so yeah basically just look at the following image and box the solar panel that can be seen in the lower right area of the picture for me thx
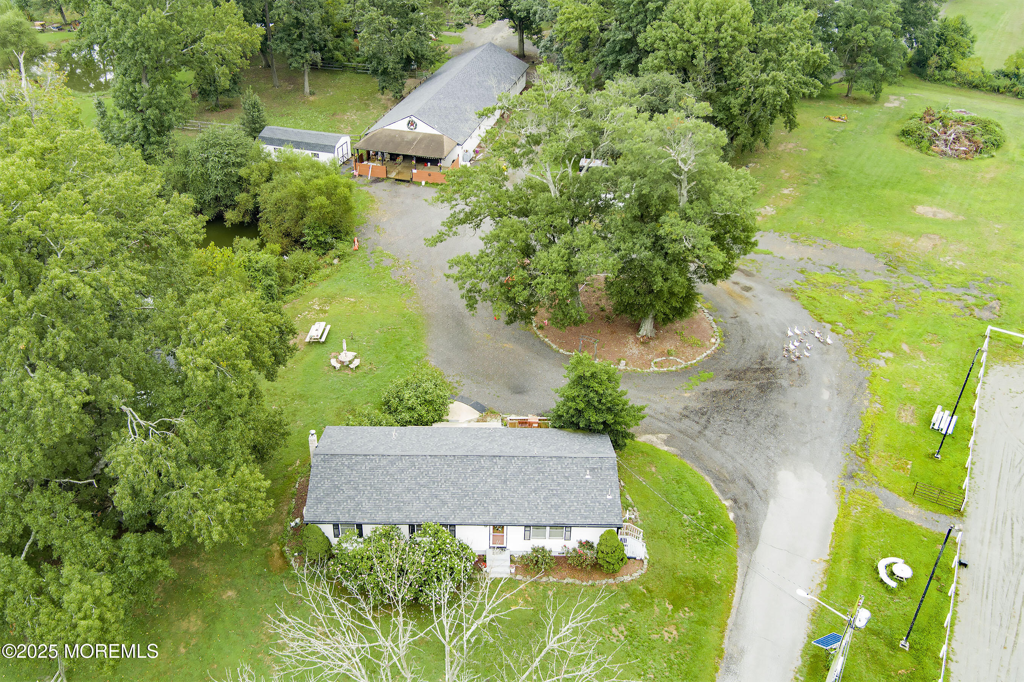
[811,631,842,666]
